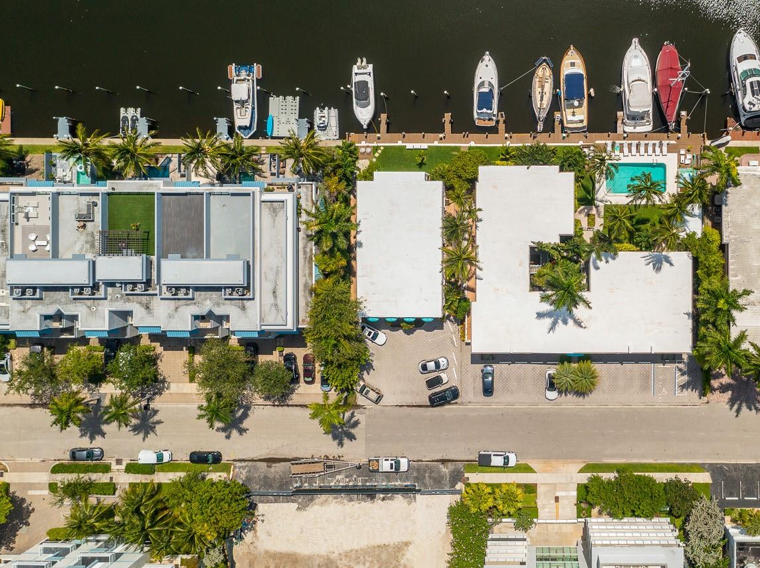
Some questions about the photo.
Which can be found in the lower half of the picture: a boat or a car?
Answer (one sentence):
It is a car that can be seen in the lower half of the picture.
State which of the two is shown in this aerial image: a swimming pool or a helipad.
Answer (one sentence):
This aerial view contains a swimming pool.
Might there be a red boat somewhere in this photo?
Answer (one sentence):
Yes, there's a red boat down there.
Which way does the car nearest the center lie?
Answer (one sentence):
From this overhead view, the car nearest the center appears to run at an angle.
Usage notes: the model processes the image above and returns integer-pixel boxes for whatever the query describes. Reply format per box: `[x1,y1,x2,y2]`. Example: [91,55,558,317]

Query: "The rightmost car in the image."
[544,368,559,400]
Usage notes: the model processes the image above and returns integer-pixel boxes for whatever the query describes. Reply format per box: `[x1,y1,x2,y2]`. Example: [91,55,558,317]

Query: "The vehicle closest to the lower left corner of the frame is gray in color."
[70,446,105,463]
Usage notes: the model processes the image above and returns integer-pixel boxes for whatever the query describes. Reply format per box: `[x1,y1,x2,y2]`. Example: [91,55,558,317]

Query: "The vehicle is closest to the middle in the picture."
[358,321,390,347]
